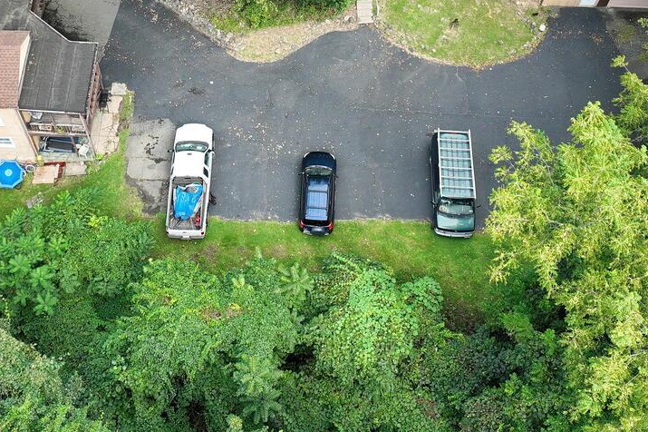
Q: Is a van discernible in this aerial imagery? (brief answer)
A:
Yes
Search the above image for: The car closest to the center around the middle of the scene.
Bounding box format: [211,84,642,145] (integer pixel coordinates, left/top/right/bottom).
[298,154,342,234]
